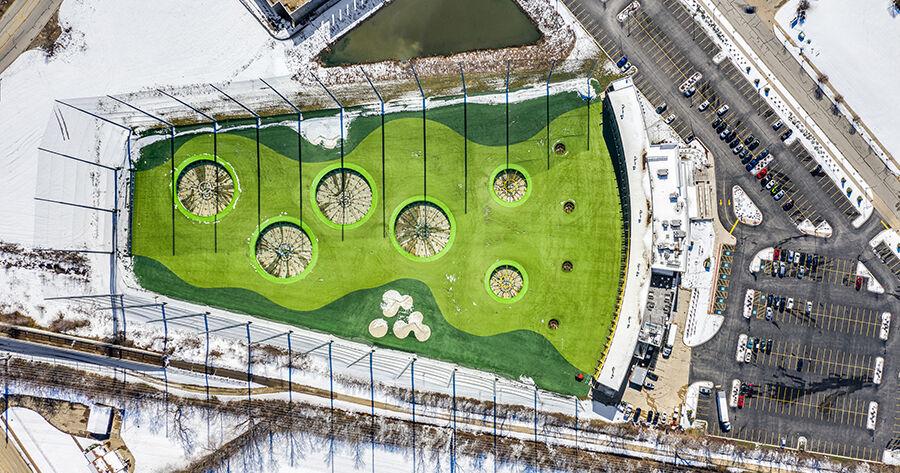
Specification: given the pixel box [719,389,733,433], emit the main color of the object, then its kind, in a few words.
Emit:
white vehicle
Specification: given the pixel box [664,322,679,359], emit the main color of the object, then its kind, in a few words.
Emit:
white vehicle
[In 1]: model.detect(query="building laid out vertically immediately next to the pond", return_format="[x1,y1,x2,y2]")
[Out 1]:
[590,78,691,405]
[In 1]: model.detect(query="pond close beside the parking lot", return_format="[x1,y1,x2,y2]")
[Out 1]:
[318,0,541,67]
